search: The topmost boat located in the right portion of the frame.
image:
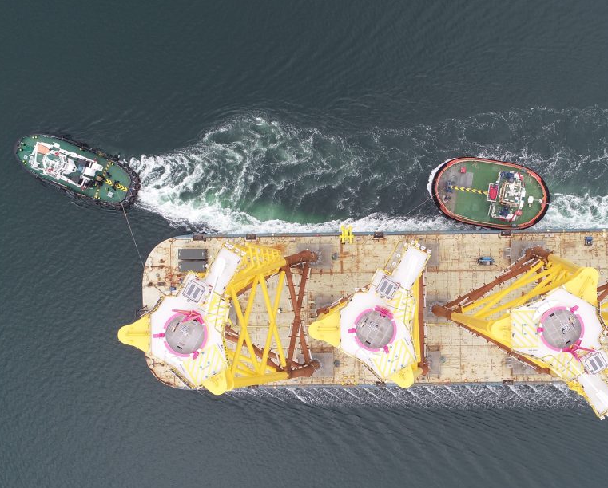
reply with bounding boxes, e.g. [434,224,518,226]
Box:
[431,156,550,229]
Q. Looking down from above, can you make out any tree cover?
No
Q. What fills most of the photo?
water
